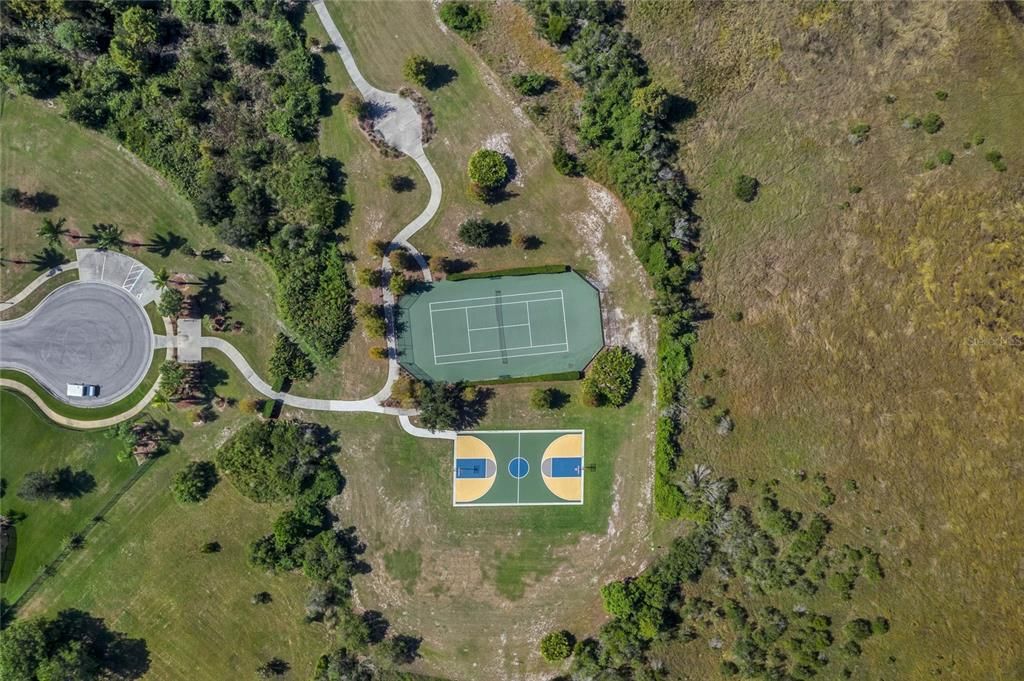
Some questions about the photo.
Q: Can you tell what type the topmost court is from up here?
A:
tennis court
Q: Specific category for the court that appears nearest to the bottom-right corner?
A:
basketball court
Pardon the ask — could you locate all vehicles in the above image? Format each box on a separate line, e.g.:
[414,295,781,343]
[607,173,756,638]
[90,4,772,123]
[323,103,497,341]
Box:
[67,384,99,398]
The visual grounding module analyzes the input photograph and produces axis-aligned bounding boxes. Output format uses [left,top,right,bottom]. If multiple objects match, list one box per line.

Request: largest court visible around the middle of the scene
[399,270,604,385]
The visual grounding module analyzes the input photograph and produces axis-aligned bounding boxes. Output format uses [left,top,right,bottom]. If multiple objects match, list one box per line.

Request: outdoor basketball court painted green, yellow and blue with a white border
[453,430,584,506]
